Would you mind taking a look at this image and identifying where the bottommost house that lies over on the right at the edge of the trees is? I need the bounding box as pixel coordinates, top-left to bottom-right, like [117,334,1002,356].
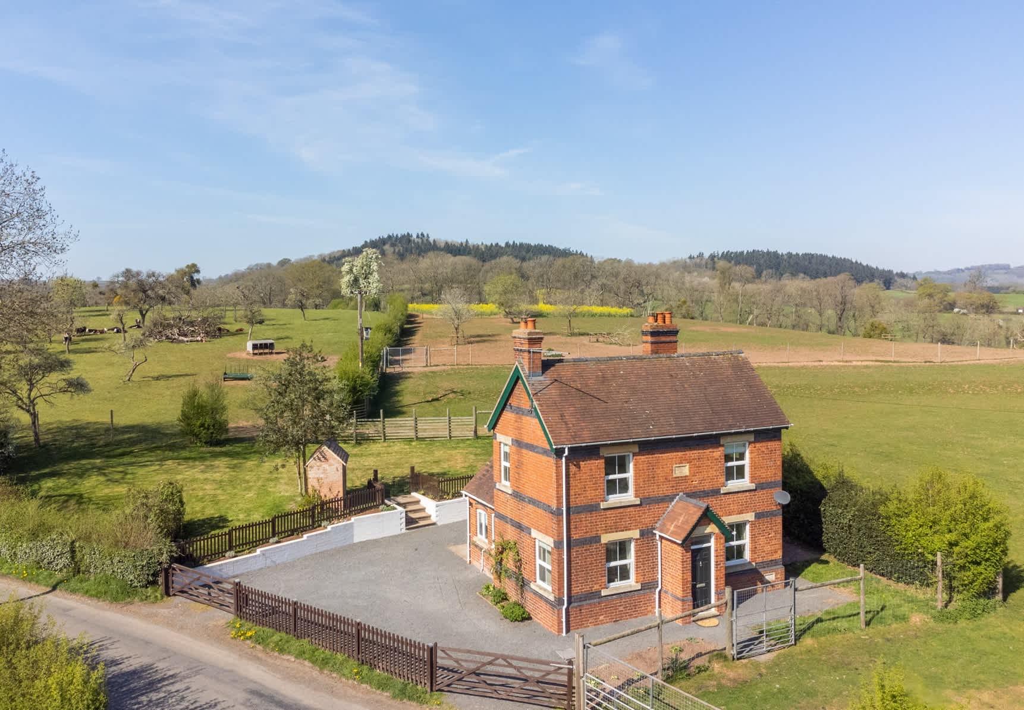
[459,312,794,634]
